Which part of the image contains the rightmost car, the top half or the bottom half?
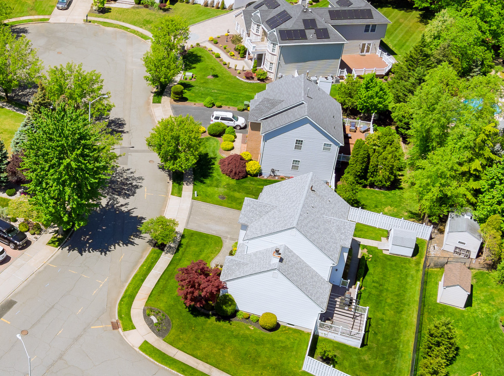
top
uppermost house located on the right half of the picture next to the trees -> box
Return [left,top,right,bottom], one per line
[229,0,396,82]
